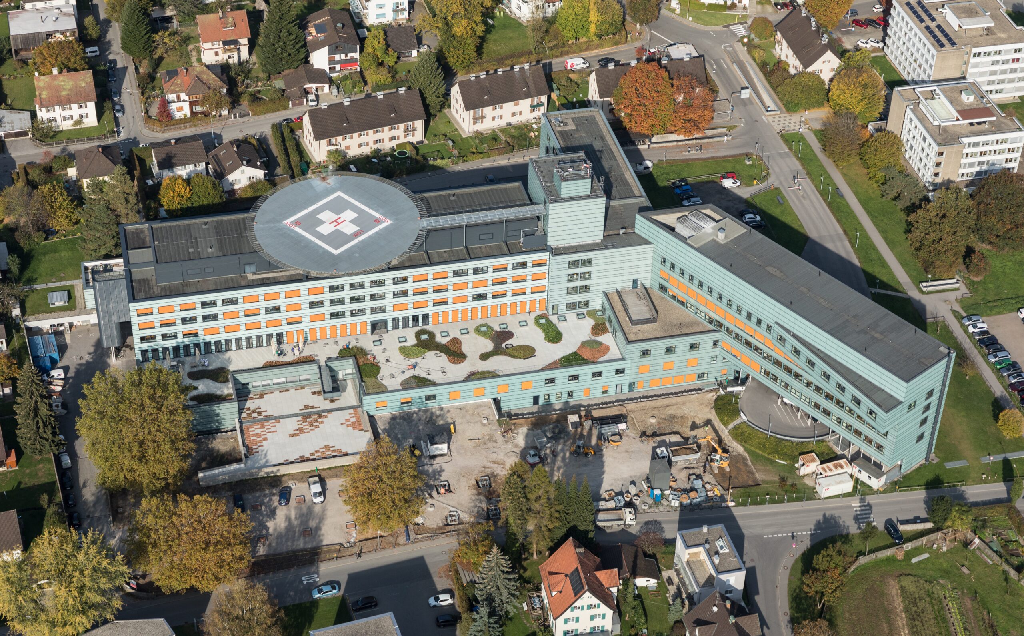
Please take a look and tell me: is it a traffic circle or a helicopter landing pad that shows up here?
helicopter landing pad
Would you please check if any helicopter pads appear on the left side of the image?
Yes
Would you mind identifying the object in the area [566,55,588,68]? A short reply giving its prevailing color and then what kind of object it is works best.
white vehicle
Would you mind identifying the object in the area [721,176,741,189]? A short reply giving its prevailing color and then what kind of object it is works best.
white vehicle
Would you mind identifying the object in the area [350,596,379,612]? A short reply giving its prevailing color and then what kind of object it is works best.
black car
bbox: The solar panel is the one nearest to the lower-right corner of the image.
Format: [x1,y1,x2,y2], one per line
[563,570,581,600]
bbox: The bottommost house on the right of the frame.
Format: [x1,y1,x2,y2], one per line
[682,594,755,636]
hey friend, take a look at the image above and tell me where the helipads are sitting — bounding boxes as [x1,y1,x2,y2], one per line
[244,171,430,282]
